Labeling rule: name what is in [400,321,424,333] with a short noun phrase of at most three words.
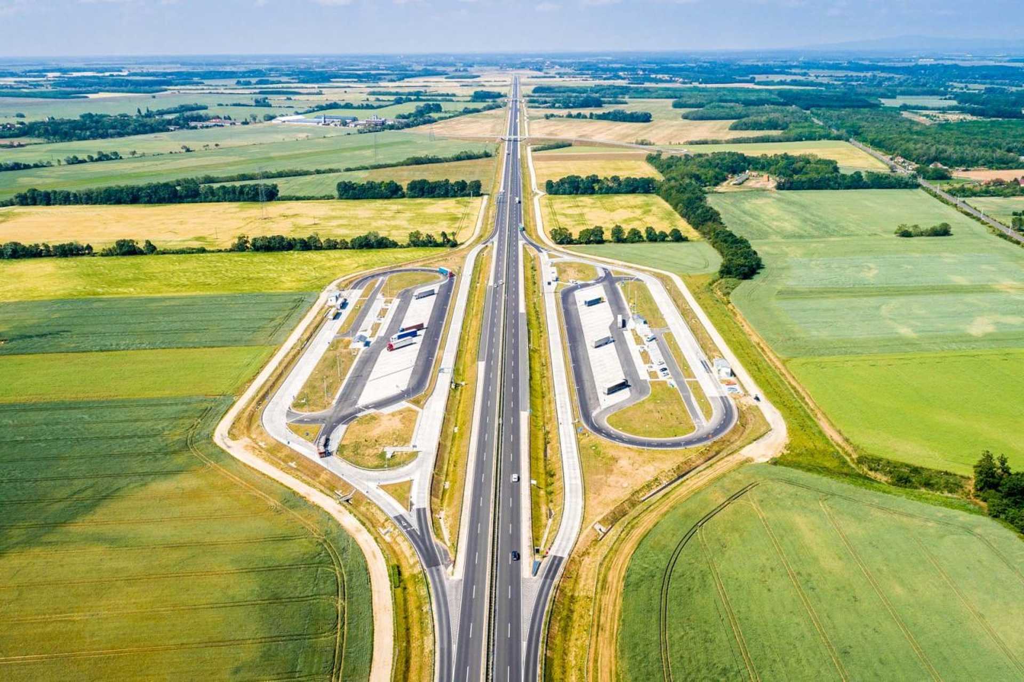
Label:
vehicle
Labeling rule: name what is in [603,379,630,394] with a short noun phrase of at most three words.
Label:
vehicle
